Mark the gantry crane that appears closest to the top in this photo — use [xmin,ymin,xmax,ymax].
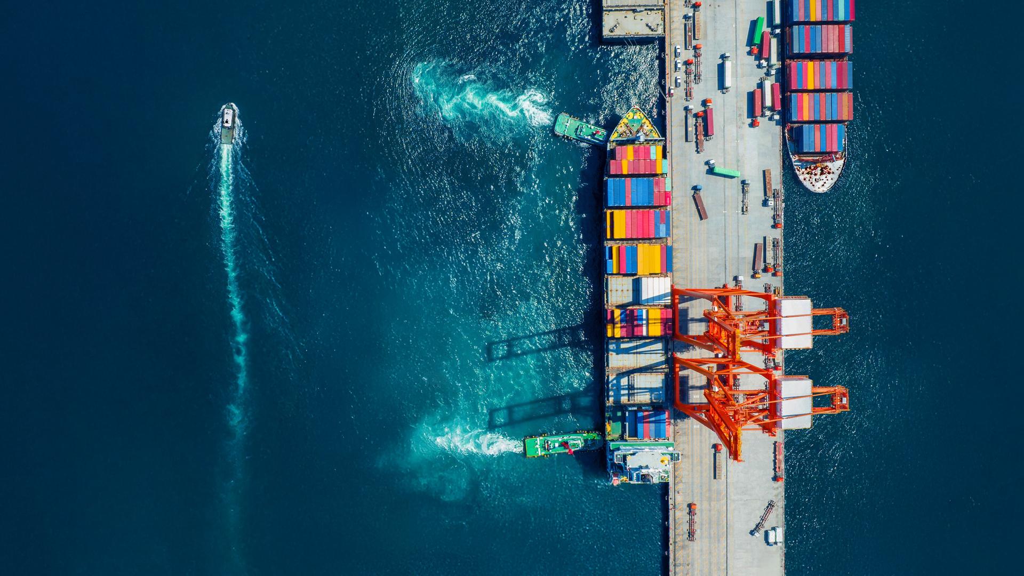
[672,286,849,360]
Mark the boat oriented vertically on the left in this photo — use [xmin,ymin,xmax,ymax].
[221,103,236,146]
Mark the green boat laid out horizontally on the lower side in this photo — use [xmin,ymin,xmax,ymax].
[524,432,604,460]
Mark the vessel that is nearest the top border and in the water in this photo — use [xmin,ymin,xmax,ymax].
[602,0,664,41]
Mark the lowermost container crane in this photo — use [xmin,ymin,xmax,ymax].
[672,355,849,459]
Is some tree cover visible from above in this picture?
No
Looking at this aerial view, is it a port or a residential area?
port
